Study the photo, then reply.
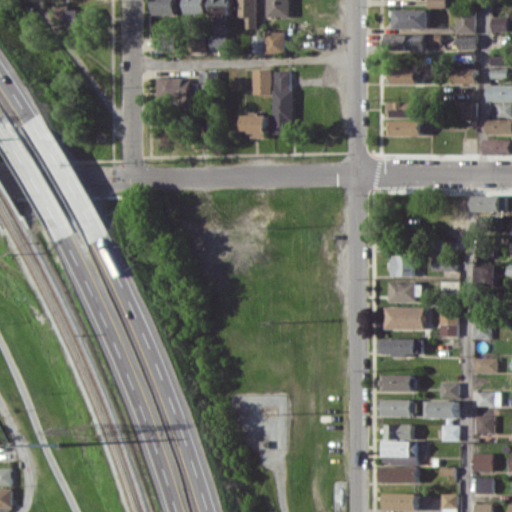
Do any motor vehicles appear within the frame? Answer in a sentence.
Yes, there is a motor vehicle in the image.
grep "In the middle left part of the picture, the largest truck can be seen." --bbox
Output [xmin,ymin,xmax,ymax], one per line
[98,240,122,280]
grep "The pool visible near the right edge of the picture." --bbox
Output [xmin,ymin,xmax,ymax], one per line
[476,342,491,356]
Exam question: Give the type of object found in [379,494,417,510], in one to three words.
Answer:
house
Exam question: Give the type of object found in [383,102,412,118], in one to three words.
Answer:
house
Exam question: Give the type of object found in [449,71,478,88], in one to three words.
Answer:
building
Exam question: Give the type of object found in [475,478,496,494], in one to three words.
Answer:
building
